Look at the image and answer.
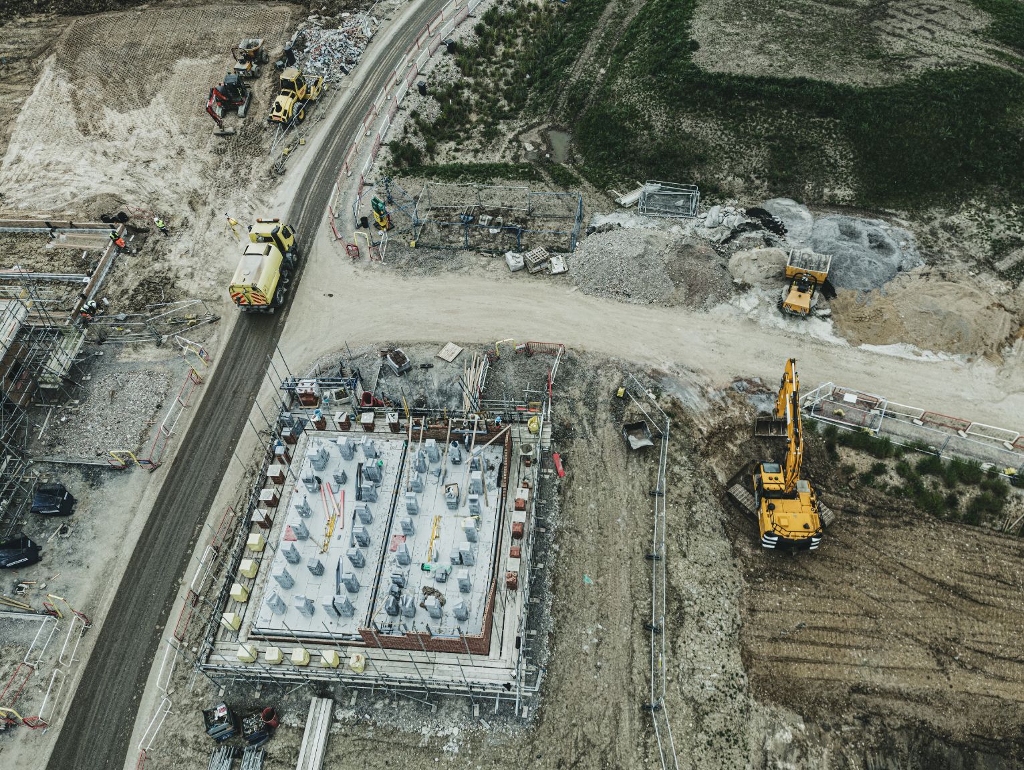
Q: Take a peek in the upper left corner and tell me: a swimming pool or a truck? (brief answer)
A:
truck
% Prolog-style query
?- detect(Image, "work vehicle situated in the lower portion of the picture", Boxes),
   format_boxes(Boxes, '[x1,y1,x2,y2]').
[722,357,838,567]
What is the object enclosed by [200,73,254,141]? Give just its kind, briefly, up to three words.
work vehicle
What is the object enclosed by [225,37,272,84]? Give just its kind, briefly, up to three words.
truck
